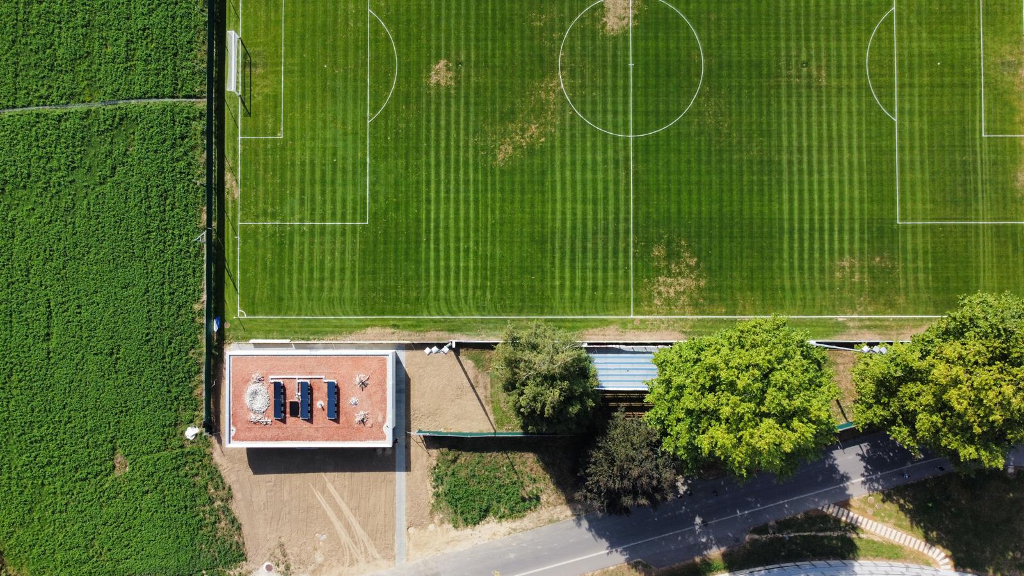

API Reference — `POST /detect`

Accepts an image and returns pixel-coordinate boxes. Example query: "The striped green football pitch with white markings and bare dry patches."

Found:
[234,0,1024,317]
